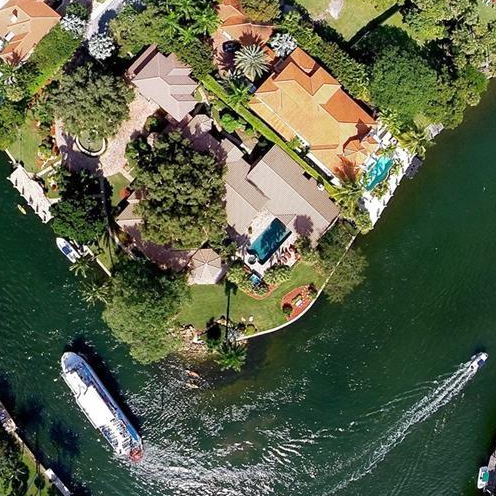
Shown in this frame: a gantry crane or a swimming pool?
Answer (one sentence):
Visible in the photo is a swimming pool.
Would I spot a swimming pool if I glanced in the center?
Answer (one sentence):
Yes, looking in the center, one can make out a swimming pool.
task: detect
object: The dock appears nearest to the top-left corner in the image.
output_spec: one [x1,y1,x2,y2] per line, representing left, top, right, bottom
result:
[8,164,54,223]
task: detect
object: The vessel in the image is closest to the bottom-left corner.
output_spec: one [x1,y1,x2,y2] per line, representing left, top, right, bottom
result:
[64,355,145,462]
